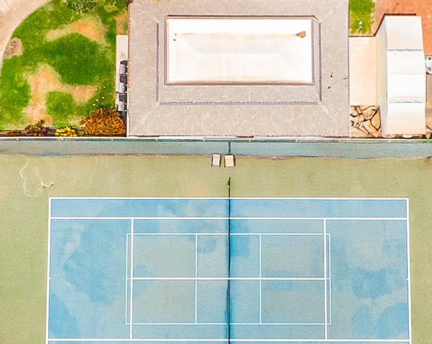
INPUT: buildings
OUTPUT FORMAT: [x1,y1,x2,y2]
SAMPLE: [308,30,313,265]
[371,15,425,142]
[126,0,352,138]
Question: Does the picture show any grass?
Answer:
Yes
